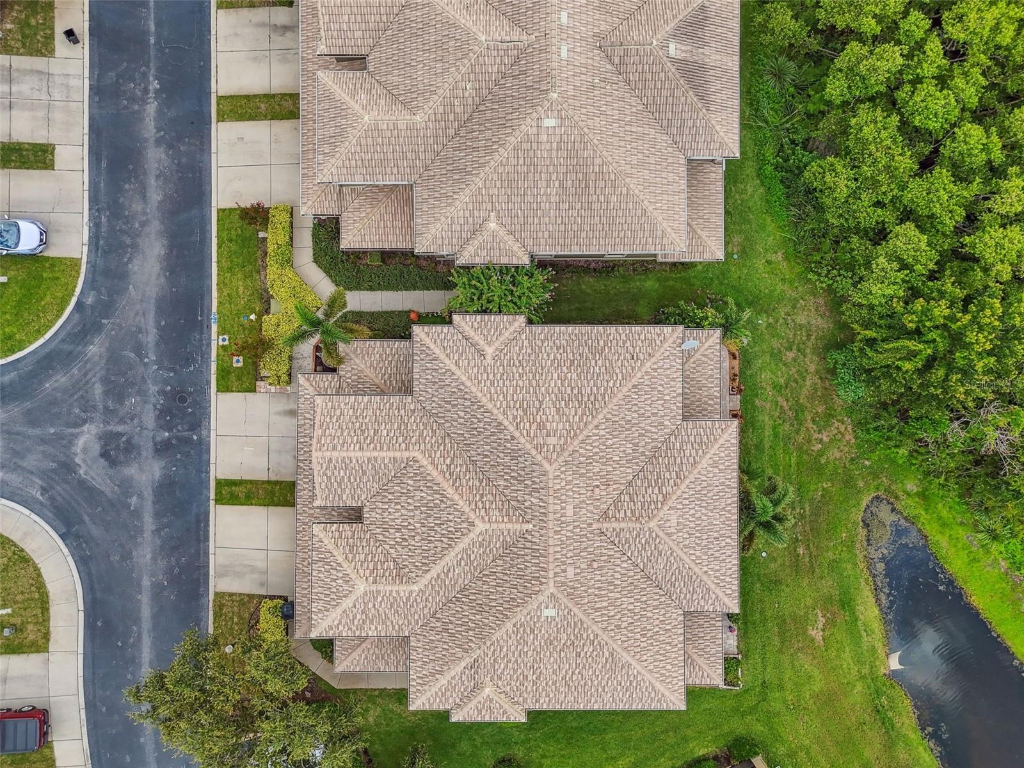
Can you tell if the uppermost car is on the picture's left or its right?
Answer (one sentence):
The uppermost car is on the left side of the image.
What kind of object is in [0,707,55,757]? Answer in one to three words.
truck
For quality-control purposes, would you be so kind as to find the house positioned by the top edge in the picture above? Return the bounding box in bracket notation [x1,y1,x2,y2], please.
[299,0,741,272]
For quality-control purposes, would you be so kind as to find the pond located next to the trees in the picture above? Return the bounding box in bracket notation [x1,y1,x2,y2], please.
[863,496,1024,768]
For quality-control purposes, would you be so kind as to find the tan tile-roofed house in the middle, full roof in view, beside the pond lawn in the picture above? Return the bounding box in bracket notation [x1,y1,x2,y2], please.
[292,312,741,723]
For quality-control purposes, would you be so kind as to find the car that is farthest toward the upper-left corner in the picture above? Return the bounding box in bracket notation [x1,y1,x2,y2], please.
[0,212,54,258]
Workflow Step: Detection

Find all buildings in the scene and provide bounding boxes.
[299,0,741,272]
[292,312,741,723]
